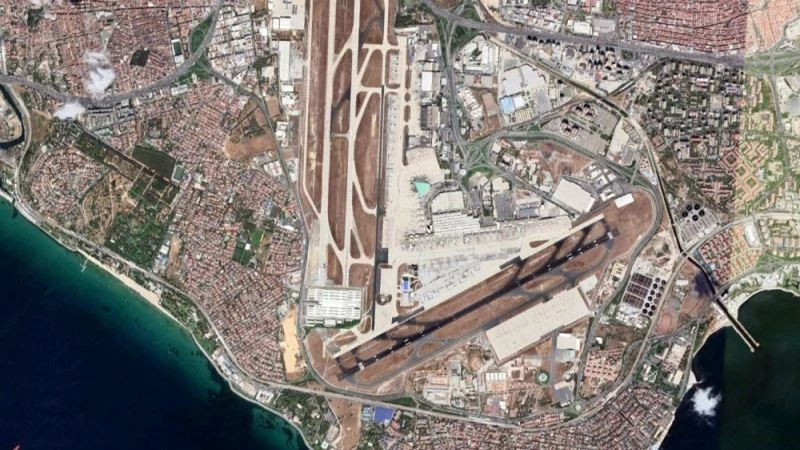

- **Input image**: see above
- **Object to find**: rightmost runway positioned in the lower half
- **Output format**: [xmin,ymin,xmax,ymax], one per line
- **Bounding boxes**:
[339,229,617,377]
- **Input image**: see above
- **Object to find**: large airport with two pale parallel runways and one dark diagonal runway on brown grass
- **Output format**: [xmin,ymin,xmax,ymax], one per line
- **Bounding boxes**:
[270,0,653,388]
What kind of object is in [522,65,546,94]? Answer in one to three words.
building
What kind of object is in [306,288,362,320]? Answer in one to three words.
hangar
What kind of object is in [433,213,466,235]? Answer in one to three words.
building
